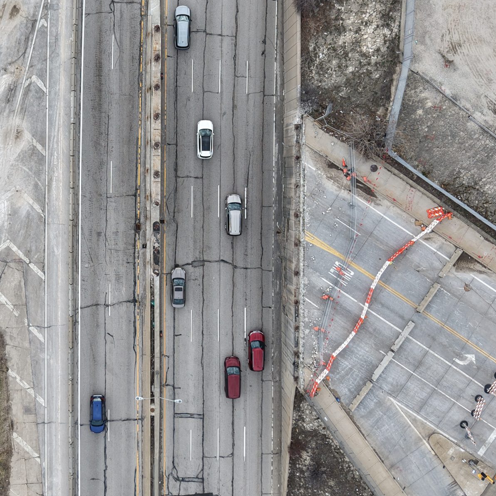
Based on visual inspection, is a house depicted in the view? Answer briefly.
No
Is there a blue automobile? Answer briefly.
Yes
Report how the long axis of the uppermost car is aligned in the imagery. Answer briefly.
from top to bottom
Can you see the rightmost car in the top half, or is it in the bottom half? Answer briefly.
bottom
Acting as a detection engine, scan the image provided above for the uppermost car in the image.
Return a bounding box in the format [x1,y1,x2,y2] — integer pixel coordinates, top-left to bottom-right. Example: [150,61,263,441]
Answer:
[173,4,193,49]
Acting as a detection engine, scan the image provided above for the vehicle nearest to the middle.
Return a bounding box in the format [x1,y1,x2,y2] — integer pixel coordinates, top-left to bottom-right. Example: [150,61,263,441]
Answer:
[226,194,244,236]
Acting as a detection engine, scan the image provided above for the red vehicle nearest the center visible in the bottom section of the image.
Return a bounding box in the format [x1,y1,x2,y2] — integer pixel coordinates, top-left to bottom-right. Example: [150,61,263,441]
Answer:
[247,331,267,372]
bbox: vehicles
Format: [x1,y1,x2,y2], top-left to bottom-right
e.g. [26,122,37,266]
[195,120,215,159]
[247,331,267,372]
[87,395,105,434]
[226,194,244,236]
[169,268,188,308]
[173,4,193,49]
[224,358,242,400]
